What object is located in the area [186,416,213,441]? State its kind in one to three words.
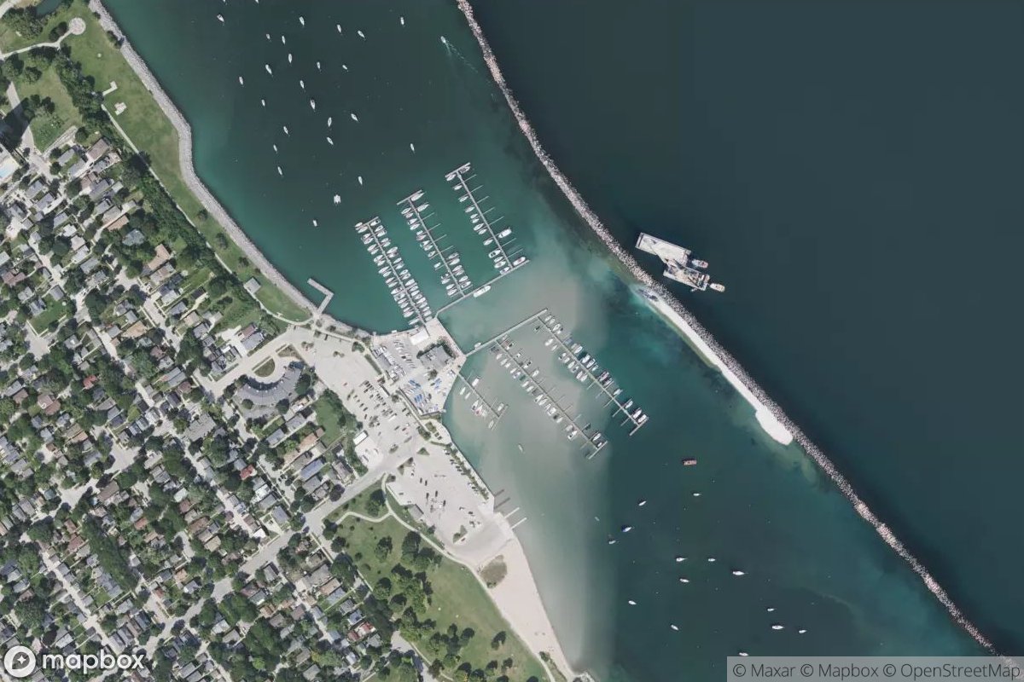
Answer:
building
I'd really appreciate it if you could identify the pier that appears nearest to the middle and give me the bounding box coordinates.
[465,307,548,358]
